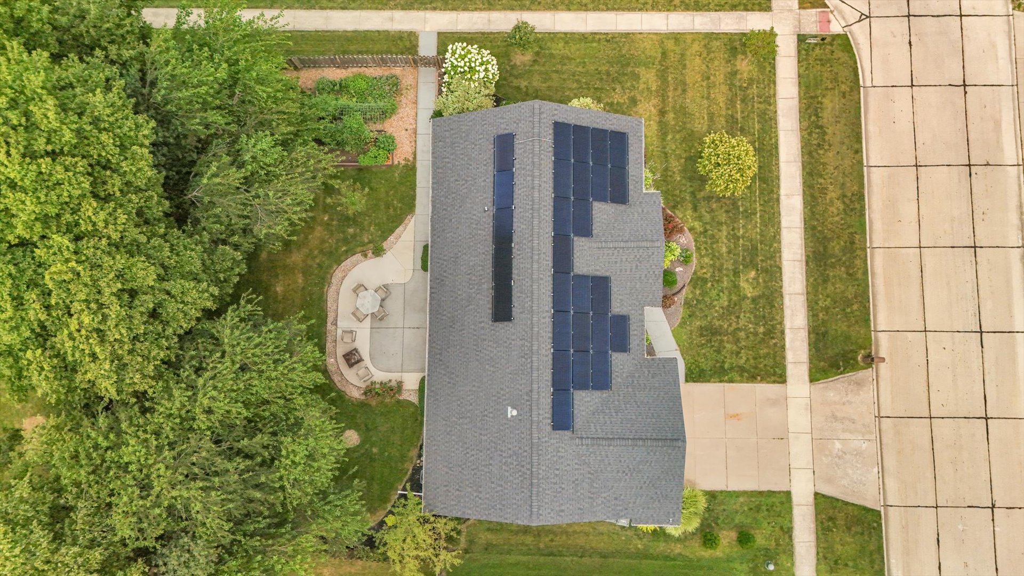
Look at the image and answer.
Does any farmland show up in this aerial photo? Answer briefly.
No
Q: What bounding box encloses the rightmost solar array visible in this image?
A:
[550,123,630,430]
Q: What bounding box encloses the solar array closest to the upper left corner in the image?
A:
[492,131,518,322]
